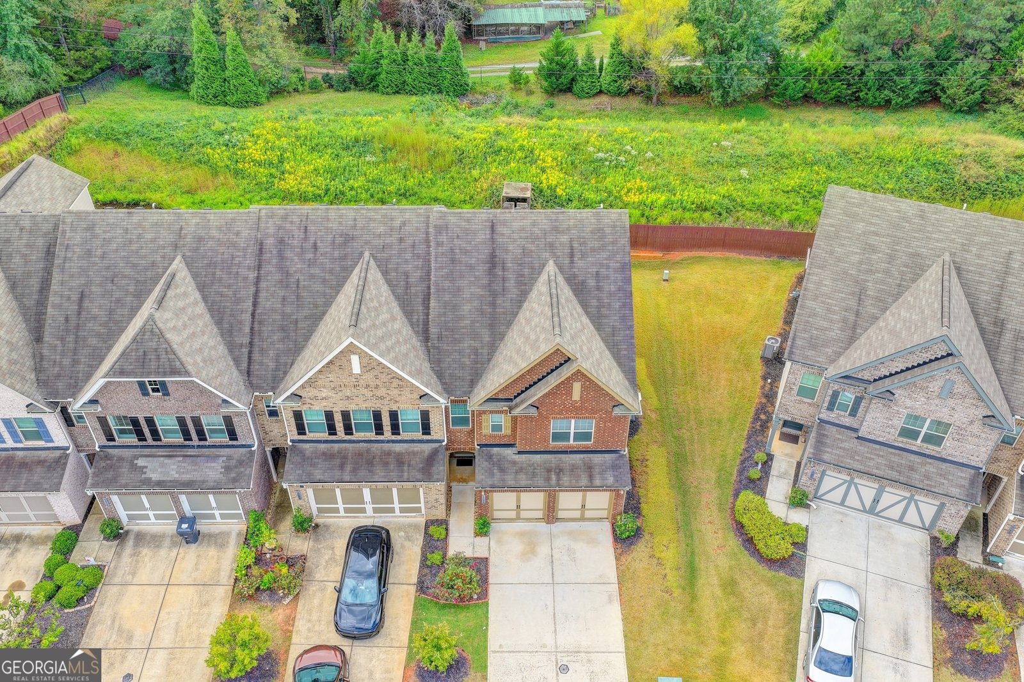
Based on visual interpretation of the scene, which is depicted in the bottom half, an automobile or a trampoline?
automobile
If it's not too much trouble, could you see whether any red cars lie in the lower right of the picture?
No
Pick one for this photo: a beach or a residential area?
residential area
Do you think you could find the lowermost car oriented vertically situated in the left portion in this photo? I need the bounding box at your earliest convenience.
[332,523,392,637]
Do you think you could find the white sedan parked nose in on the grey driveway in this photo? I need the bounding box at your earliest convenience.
[804,581,867,682]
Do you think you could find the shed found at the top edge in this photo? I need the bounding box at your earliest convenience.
[471,4,587,38]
